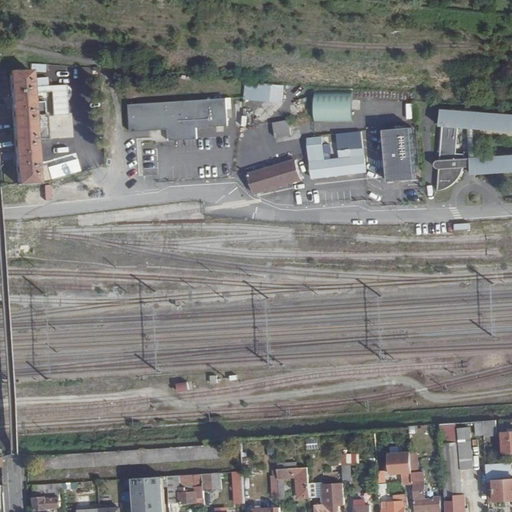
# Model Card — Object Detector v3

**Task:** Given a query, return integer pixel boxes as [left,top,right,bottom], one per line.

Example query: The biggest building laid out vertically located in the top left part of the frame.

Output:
[11,70,46,183]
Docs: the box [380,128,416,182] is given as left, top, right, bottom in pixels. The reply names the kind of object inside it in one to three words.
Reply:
building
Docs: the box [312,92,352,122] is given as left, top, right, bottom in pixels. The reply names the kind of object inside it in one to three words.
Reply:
hangar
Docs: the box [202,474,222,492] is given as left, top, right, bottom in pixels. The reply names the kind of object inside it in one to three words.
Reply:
house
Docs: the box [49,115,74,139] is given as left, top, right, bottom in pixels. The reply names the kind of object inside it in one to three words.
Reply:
building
